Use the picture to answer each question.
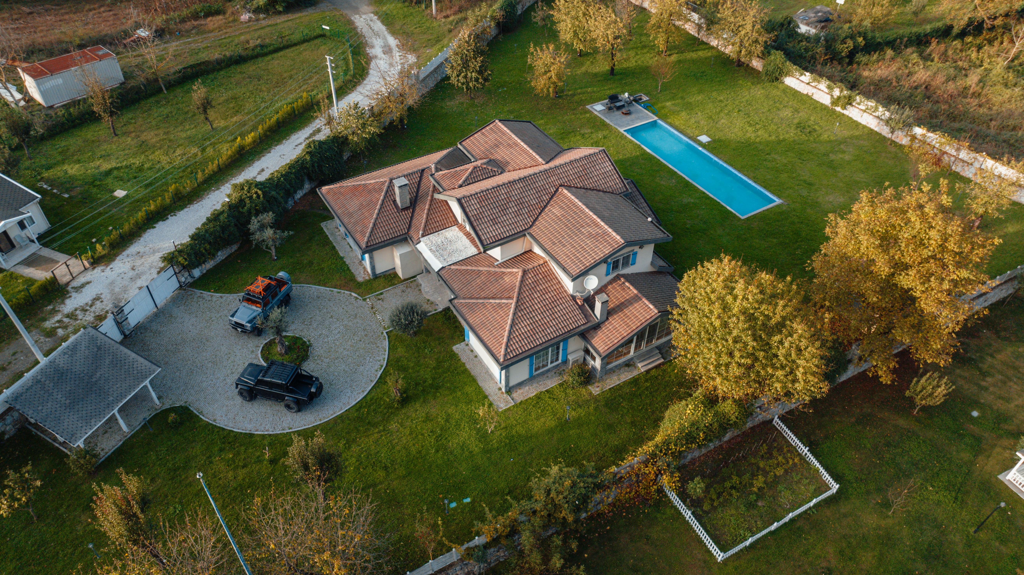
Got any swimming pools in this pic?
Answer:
Yes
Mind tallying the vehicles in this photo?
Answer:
2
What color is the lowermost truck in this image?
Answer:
black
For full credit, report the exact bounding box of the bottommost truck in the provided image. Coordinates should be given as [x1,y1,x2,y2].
[228,355,323,412]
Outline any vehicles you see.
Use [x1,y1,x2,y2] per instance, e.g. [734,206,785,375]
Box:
[228,355,323,412]
[222,271,297,338]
